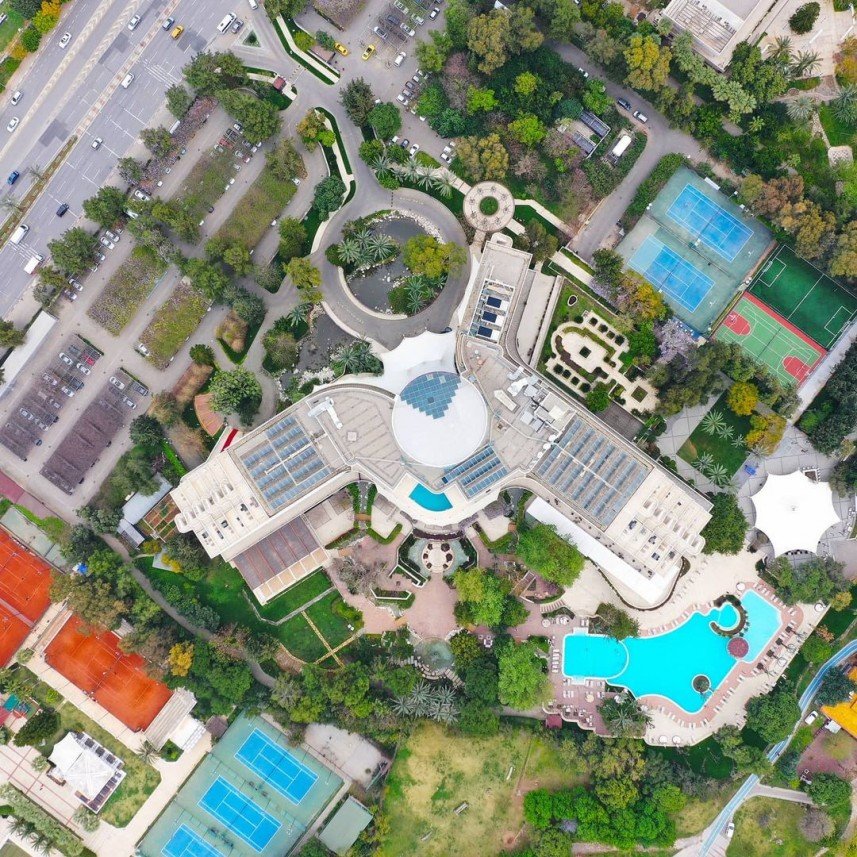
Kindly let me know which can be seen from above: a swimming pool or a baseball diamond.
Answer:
swimming pool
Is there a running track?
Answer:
No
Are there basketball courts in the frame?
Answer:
Yes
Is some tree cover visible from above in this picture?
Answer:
Yes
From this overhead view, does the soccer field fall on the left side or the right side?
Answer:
right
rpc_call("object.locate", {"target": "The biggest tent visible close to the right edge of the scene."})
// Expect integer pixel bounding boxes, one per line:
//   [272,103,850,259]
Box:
[746,470,840,557]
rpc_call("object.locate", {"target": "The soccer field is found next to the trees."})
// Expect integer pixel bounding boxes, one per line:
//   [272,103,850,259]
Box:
[744,239,857,356]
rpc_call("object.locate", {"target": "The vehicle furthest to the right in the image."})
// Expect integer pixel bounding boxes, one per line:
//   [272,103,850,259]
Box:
[806,711,819,726]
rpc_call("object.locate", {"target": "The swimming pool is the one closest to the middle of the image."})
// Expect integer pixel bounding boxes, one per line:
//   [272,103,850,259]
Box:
[408,483,454,511]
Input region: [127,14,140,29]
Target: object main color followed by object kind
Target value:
white vehicle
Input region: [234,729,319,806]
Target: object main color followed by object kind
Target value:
blue tennis court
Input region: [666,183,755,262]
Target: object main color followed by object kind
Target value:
blue tennis court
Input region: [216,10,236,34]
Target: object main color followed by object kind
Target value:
white vehicle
